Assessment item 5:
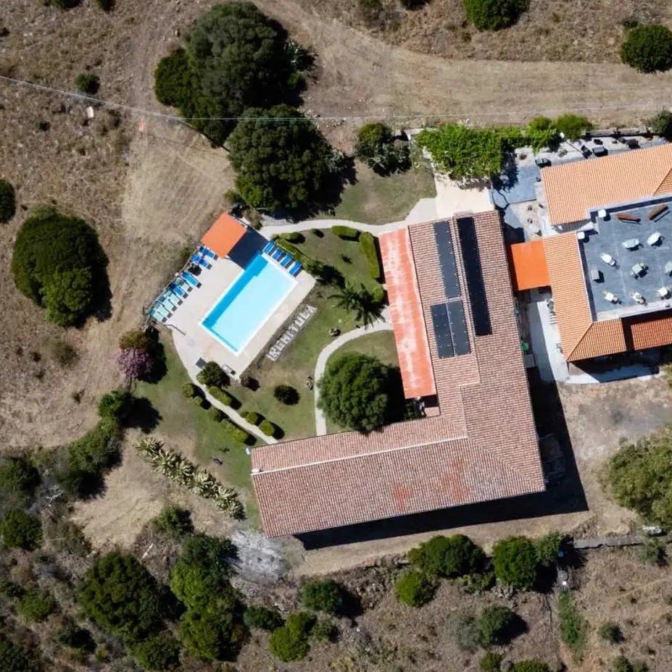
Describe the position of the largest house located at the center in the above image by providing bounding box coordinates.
[249,211,545,537]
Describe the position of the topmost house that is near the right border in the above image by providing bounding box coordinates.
[540,142,672,361]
